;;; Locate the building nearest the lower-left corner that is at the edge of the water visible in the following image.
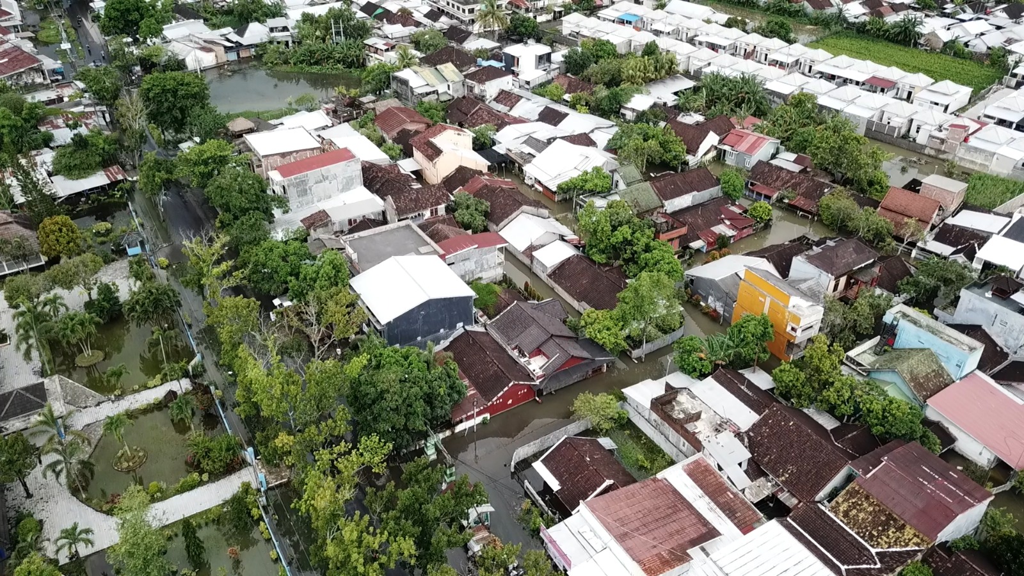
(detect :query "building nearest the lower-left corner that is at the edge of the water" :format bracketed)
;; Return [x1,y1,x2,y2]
[0,375,108,438]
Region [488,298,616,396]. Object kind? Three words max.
house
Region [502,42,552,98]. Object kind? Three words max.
house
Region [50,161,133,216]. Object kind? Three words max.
shed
